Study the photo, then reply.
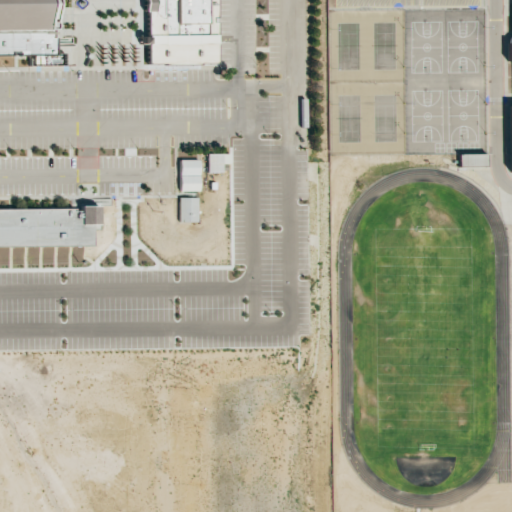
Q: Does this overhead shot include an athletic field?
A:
Yes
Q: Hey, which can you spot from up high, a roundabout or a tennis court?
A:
tennis court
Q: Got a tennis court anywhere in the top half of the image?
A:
Yes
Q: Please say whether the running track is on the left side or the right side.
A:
right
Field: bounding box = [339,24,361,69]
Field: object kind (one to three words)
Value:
tennis court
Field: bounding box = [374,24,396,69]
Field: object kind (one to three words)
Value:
tennis court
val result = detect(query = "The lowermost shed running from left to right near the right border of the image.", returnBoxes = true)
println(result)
[460,154,490,166]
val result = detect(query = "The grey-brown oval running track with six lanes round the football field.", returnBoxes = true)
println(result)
[338,168,512,508]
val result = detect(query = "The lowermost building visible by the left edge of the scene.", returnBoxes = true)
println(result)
[0,206,103,246]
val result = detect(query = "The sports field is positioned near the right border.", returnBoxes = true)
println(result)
[352,181,497,494]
